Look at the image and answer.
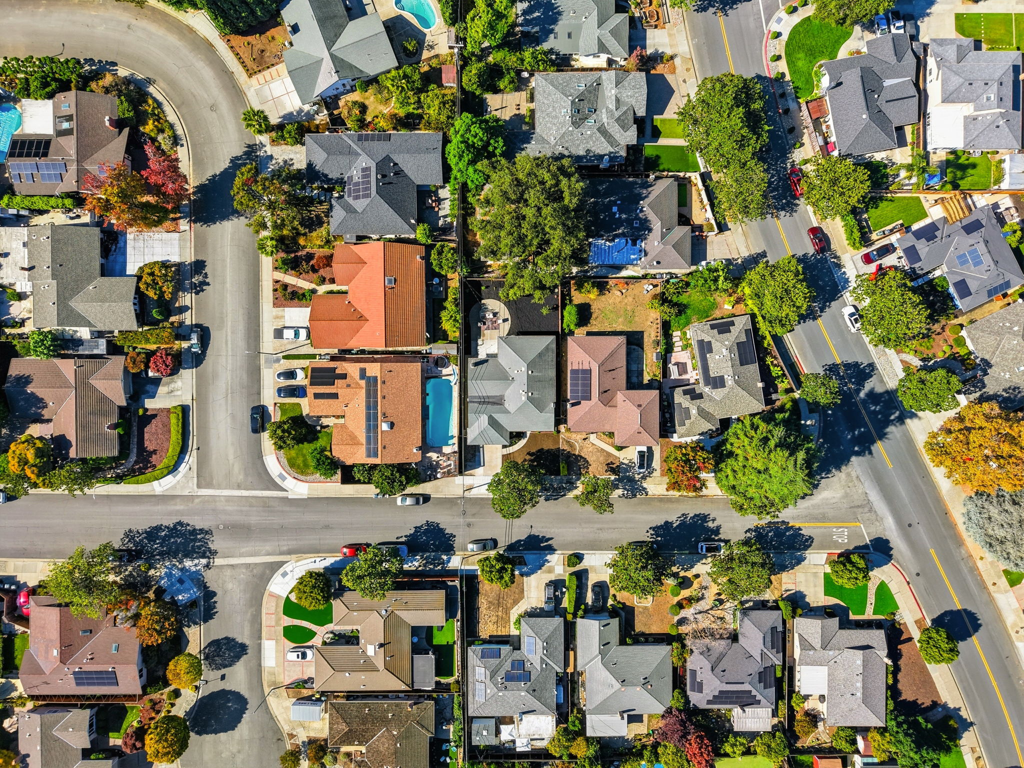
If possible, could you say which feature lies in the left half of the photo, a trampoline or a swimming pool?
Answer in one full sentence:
Visible in the left half of the photo is a swimming pool.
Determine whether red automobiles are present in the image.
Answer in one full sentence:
Yes, a red automobile is visible in the scene.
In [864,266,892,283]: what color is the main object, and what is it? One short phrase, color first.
red car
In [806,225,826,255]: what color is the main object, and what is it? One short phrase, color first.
red car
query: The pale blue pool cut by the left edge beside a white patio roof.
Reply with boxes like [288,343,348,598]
[0,100,23,154]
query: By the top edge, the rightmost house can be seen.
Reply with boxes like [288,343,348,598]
[922,38,1024,153]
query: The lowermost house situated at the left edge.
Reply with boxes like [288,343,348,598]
[8,704,122,768]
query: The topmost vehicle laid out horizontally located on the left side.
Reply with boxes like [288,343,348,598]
[274,326,309,340]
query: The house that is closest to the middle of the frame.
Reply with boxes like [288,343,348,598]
[467,336,555,445]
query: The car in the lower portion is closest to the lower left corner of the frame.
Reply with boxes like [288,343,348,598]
[17,587,32,614]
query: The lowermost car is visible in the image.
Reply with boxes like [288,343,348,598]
[286,646,314,661]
